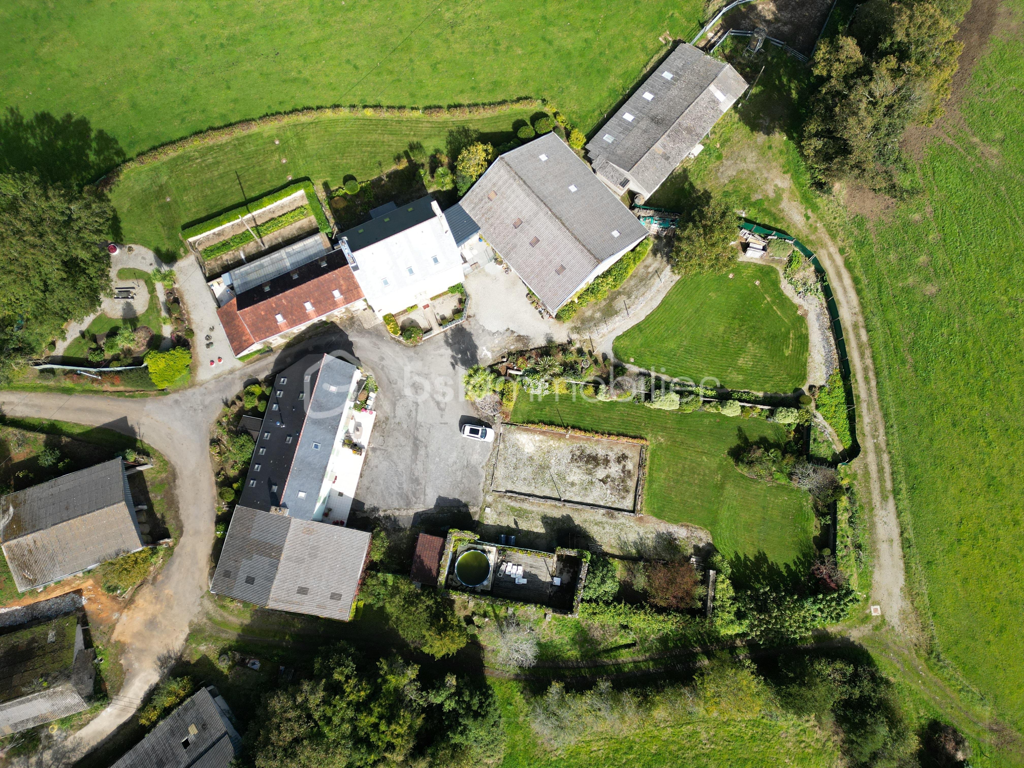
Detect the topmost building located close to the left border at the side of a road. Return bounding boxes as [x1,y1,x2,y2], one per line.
[0,456,157,596]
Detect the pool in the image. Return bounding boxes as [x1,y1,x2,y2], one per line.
[455,550,491,588]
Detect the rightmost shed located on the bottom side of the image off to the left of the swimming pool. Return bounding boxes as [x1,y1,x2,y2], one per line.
[410,533,449,586]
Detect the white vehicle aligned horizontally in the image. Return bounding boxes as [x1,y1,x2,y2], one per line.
[460,426,494,443]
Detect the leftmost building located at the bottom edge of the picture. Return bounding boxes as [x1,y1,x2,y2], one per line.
[0,615,102,734]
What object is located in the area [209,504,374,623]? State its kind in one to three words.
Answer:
barn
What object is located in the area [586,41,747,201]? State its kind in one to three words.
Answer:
barn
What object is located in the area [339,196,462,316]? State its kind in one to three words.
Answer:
house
